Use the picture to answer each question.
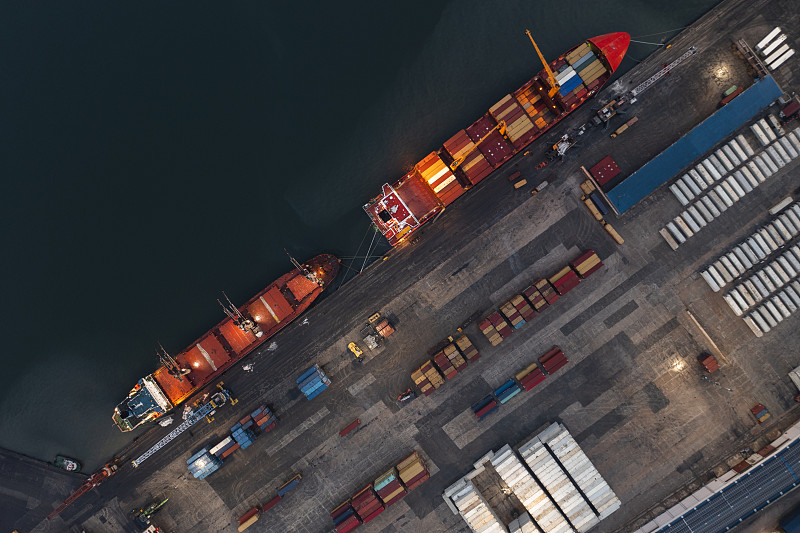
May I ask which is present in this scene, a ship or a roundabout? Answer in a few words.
ship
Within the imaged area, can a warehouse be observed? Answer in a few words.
Yes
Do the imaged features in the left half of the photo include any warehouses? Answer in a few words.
No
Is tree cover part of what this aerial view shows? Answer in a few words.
No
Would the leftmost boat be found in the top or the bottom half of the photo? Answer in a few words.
bottom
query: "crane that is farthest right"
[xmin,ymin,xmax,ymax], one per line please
[584,45,698,131]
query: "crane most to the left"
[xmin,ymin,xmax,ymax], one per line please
[44,449,133,524]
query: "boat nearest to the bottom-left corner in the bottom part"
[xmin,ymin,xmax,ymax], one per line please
[54,453,84,474]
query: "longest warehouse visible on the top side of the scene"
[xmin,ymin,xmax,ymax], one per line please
[603,73,785,215]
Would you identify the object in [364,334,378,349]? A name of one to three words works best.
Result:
vehicle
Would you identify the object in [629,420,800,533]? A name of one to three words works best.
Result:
shed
